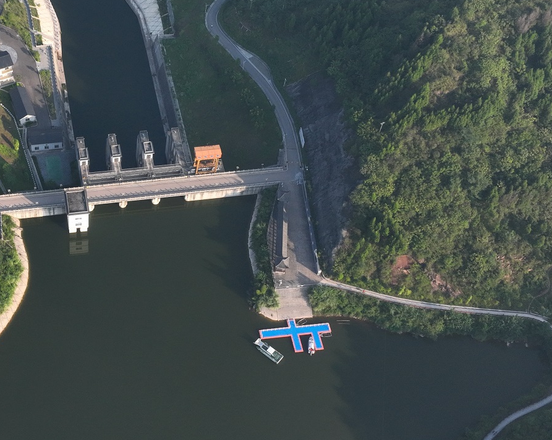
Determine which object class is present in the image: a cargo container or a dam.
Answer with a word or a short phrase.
dam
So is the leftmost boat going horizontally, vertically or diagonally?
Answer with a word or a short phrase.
diagonally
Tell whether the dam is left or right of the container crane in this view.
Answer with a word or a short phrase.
on the left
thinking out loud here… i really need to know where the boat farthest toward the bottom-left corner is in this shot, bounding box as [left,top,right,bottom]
[250,333,284,365]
